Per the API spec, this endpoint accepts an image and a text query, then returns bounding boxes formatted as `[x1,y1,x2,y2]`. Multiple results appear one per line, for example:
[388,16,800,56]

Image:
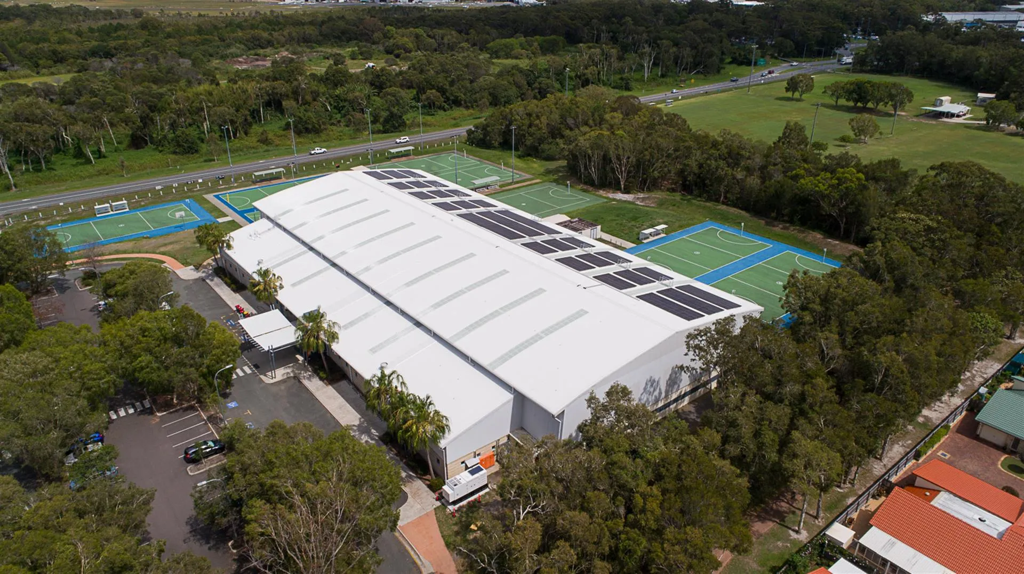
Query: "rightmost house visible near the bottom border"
[855,454,1024,574]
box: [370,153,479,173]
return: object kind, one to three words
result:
sports court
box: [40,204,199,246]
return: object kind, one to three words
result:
sports court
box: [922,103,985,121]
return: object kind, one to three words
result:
building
